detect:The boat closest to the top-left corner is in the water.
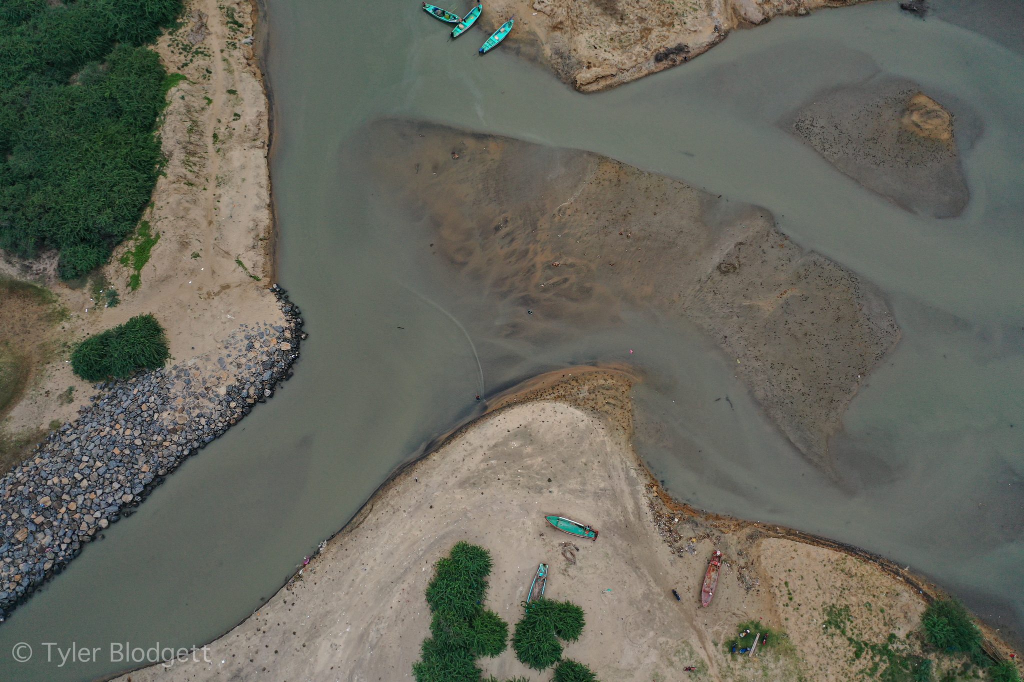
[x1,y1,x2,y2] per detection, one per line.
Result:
[416,1,461,22]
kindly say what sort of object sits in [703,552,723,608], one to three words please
boat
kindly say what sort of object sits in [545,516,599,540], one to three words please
boat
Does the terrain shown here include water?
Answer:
Yes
